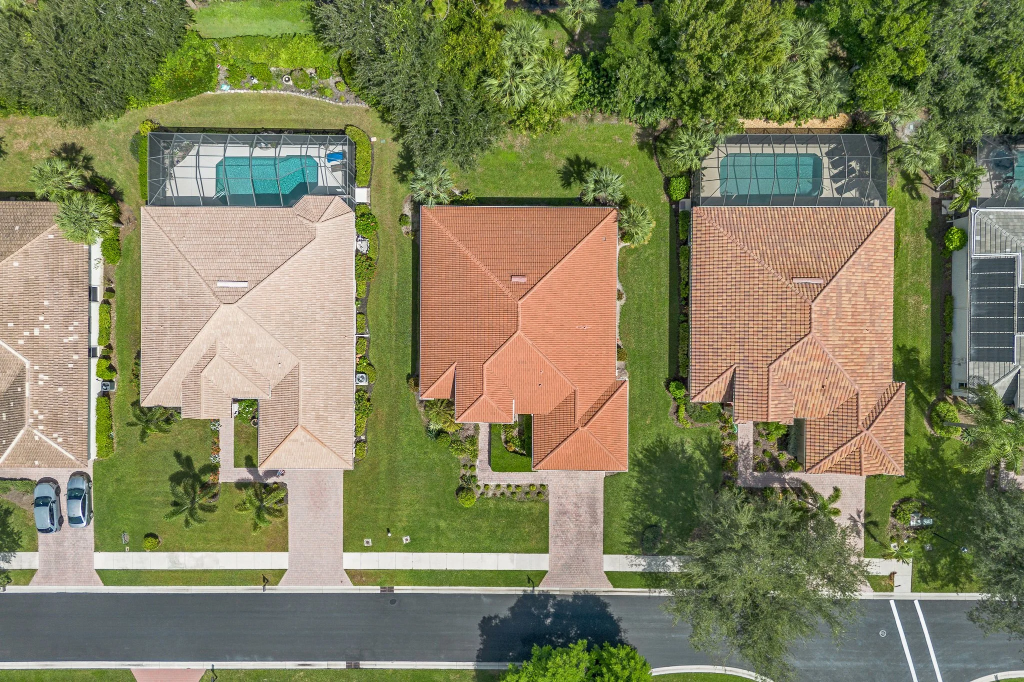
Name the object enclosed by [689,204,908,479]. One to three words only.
house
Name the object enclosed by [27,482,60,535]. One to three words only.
car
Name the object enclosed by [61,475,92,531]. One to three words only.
car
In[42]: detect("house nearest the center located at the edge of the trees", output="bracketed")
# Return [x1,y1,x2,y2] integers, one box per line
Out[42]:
[418,205,630,473]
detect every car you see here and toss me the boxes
[27,482,60,535]
[61,475,92,531]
